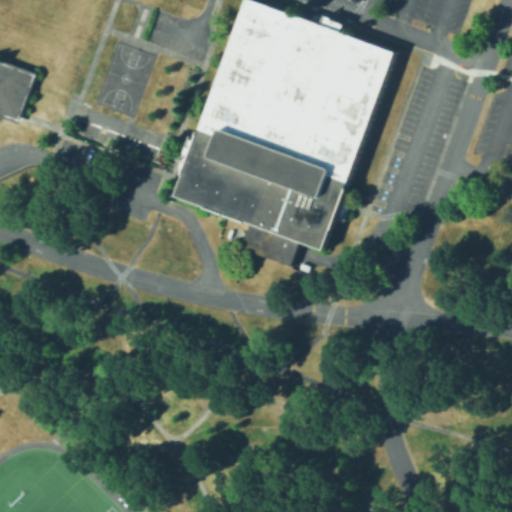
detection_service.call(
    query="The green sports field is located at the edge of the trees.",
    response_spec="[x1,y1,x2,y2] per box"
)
[0,442,132,512]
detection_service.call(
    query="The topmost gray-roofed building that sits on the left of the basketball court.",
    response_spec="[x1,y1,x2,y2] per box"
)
[0,62,36,122]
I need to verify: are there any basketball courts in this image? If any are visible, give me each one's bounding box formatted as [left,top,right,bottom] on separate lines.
[98,42,157,118]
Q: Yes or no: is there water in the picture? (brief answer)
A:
No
